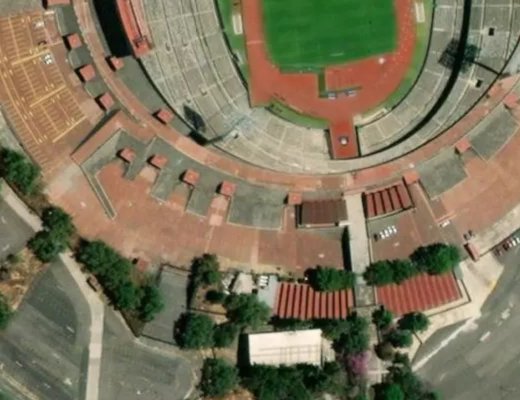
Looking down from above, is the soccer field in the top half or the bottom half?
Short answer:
top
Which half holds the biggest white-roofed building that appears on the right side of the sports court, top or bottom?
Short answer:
bottom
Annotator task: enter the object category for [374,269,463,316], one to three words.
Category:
building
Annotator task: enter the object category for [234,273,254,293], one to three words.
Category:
shed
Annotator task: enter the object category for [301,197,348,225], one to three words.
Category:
building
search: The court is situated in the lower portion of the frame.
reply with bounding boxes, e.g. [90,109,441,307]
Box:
[140,264,190,346]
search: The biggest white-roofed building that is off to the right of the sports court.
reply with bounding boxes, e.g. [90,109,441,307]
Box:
[247,328,323,368]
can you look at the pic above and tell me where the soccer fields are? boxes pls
[262,0,398,97]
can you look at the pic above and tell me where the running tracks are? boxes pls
[242,0,415,122]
